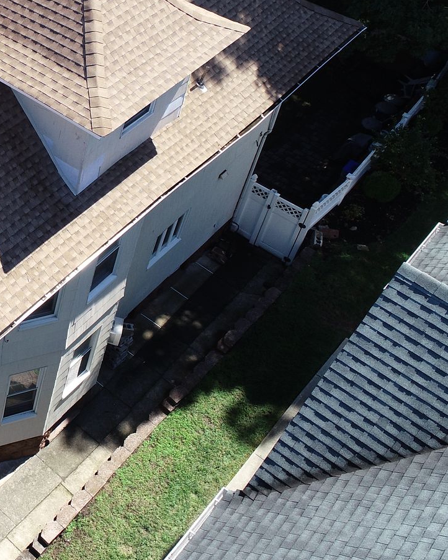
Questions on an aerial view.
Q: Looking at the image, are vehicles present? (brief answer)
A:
No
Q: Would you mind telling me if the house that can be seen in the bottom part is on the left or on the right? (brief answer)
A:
right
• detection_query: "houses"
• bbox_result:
[181,229,448,560]
[0,0,371,465]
